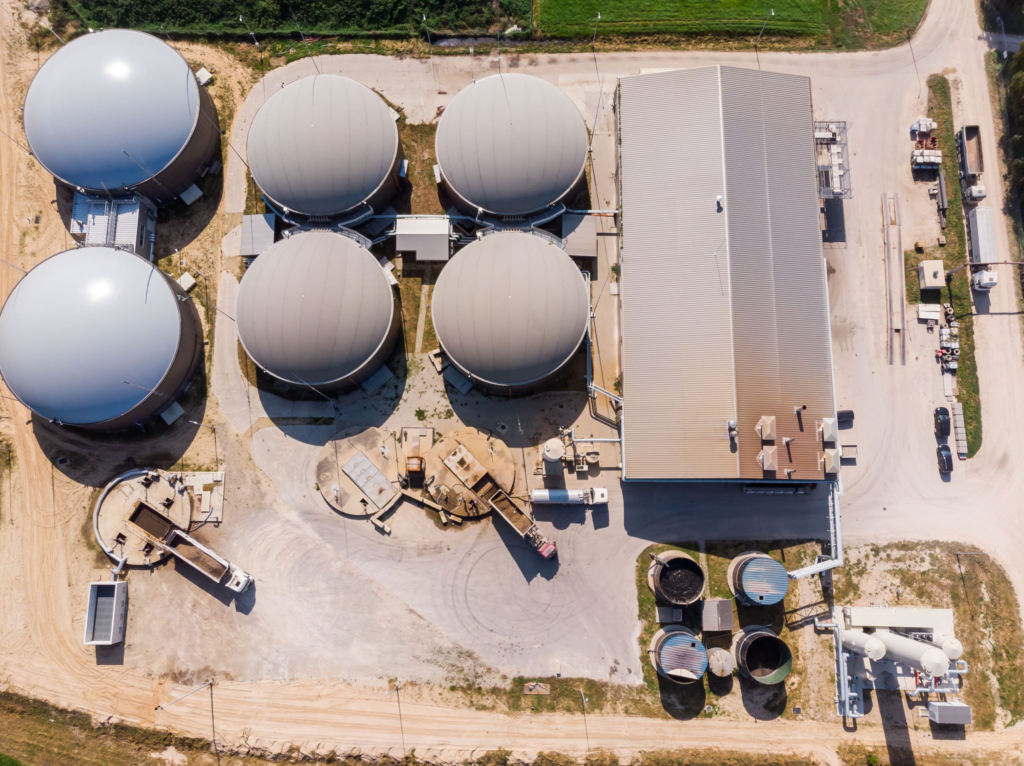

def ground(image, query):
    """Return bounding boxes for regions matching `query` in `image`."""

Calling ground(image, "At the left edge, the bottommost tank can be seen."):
[0,245,205,433]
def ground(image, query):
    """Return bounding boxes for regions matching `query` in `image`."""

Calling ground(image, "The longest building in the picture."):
[613,63,837,481]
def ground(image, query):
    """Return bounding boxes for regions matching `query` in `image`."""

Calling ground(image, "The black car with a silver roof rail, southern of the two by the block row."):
[936,445,955,471]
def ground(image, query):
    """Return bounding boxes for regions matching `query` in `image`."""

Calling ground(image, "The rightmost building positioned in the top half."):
[916,260,945,290]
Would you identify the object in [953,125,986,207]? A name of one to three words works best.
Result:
truck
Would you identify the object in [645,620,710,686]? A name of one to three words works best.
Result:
storage tank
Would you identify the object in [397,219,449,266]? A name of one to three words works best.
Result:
building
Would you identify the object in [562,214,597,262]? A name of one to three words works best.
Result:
building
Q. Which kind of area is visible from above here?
industrial area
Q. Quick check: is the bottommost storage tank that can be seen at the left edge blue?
No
